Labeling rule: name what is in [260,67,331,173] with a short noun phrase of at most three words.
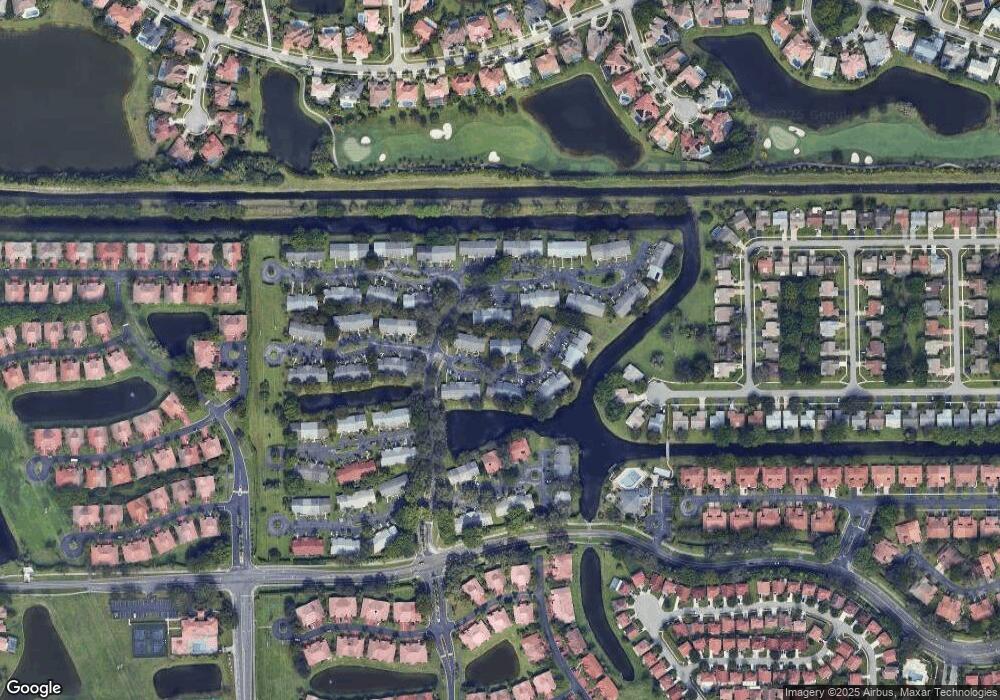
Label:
pond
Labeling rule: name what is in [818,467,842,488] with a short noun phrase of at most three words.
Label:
house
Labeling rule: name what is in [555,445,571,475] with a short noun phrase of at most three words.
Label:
building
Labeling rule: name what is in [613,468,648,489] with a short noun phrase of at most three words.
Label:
swimming pool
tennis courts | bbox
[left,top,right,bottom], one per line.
[152,630,162,653]
[135,630,145,653]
